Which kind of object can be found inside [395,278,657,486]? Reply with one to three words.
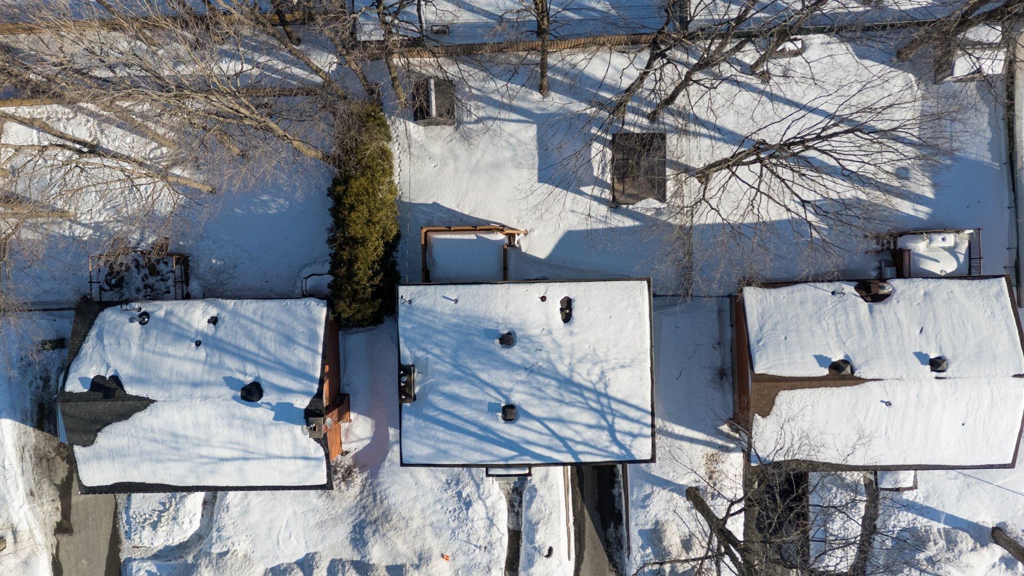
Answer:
house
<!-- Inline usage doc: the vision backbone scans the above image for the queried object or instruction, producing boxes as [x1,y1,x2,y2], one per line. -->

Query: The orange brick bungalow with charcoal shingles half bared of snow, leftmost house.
[58,298,347,496]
